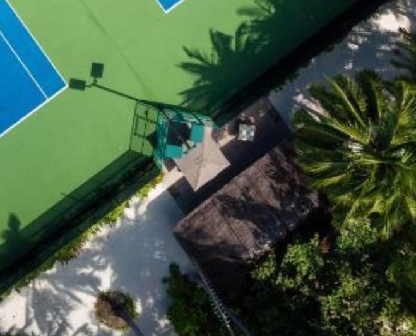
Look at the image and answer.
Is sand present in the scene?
Yes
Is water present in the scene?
No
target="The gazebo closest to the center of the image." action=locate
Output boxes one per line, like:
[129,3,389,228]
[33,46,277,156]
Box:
[170,133,232,193]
